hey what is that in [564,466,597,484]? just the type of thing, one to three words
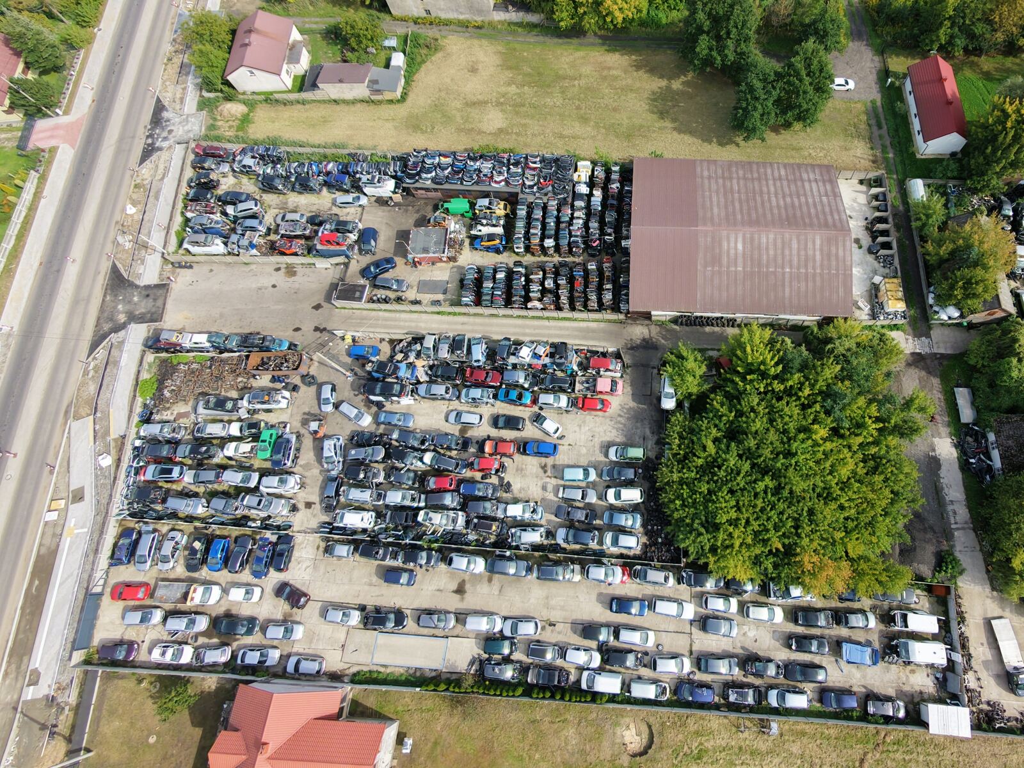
vehicle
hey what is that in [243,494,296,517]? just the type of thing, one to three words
car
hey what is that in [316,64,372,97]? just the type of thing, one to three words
shed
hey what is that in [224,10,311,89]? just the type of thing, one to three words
house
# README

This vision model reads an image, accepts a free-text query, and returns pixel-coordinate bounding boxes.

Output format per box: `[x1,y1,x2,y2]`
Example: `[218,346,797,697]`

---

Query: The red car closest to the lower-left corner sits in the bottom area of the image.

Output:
[111,581,155,602]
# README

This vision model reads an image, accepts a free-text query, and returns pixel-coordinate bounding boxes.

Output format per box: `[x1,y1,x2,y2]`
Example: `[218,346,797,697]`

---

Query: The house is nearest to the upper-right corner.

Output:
[902,54,967,153]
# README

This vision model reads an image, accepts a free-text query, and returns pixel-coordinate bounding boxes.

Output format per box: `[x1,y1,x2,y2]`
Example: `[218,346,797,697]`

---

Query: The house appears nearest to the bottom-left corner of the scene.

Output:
[197,683,393,768]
